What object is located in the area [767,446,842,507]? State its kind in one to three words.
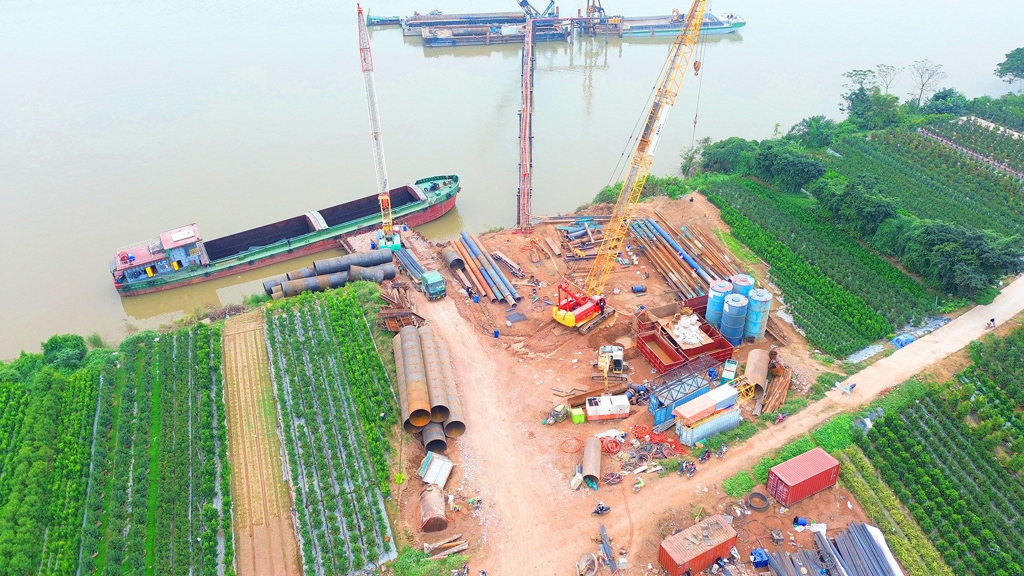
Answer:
shipping container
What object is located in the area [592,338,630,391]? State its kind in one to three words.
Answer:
work vehicle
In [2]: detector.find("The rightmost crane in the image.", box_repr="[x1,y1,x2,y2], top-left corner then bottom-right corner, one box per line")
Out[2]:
[548,0,711,337]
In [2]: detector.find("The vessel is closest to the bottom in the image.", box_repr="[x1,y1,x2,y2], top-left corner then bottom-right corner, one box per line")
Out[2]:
[112,172,461,292]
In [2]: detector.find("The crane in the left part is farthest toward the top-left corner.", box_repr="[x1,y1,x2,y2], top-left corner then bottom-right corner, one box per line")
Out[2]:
[358,5,405,251]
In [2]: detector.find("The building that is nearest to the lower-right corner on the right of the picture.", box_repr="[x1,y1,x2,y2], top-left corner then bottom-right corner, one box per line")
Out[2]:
[721,359,738,384]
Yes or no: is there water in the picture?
Yes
